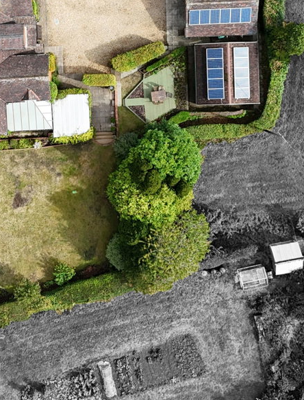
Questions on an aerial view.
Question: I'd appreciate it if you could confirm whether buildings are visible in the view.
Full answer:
Yes, the photo shows a building.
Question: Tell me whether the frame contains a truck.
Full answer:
No, there appears to be no truck in this shot.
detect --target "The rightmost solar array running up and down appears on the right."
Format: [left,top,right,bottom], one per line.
[233,46,250,100]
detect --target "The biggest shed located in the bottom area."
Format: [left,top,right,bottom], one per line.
[268,240,303,273]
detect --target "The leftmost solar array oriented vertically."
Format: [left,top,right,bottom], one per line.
[206,47,225,100]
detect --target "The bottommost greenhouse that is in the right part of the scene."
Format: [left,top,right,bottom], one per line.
[234,263,269,290]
